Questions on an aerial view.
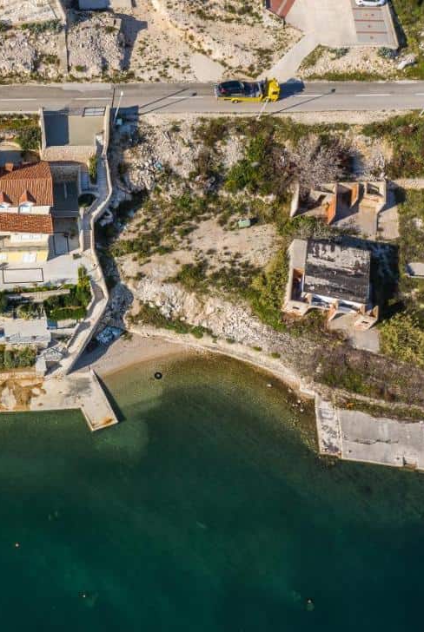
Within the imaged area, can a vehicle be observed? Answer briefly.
Yes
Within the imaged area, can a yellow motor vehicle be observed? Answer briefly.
Yes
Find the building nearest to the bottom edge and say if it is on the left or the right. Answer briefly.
left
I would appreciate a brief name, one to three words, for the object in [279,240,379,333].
house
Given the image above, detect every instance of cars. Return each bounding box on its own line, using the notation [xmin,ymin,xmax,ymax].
[220,81,253,98]
[356,0,387,8]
